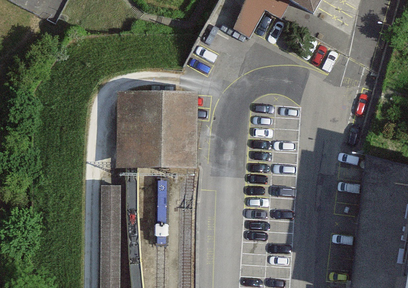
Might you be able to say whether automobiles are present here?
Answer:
Yes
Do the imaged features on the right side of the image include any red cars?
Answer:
Yes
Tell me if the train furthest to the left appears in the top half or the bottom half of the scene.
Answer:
bottom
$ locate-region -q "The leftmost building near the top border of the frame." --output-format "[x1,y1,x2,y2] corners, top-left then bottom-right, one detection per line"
[234,0,290,38]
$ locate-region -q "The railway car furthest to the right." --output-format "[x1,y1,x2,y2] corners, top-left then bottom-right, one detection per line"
[154,176,168,248]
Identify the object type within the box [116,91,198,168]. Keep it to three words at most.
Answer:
shed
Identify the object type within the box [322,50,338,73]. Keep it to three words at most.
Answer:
vehicle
